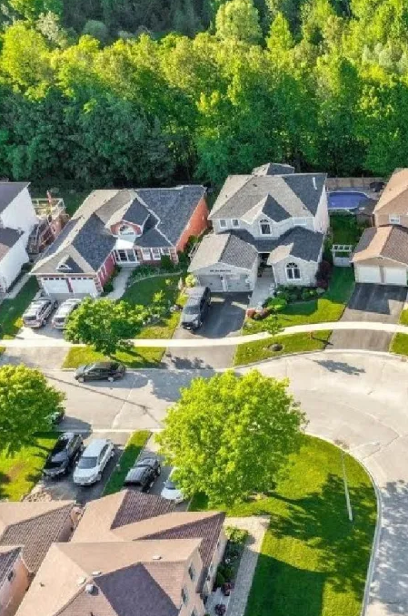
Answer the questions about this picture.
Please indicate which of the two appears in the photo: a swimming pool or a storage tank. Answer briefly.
swimming pool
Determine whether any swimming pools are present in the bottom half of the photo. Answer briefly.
No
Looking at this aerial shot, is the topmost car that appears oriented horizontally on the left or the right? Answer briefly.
left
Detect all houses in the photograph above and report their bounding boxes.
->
[15,486,228,616]
[31,184,209,295]
[350,167,408,284]
[187,157,328,292]
[0,183,38,289]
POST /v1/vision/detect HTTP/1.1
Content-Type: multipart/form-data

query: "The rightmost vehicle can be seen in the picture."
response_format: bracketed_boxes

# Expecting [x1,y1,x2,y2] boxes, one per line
[181,294,210,327]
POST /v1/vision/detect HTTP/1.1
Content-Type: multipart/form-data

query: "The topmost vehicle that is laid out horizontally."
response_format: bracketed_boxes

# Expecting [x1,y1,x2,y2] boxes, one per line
[72,360,128,382]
